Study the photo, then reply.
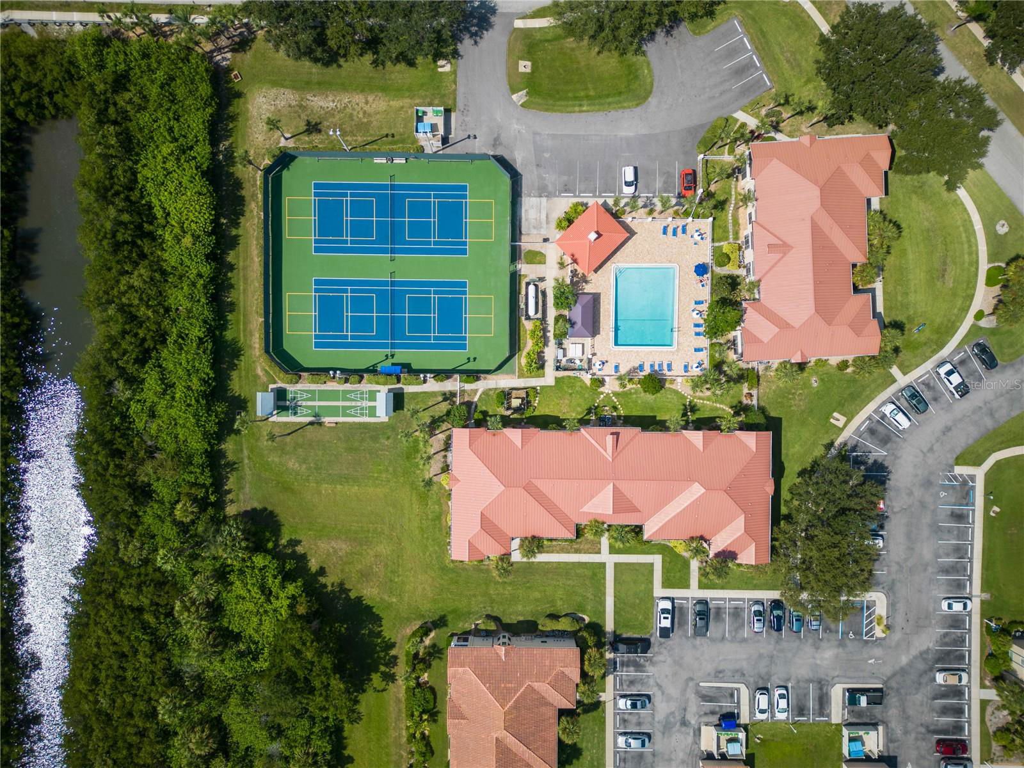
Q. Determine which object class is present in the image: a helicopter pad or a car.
car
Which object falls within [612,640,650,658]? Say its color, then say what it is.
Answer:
black vehicle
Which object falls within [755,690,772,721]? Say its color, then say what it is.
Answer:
white car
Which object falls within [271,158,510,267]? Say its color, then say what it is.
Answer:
green tennis court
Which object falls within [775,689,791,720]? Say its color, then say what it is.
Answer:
white car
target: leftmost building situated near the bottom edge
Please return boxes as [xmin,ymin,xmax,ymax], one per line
[447,635,580,768]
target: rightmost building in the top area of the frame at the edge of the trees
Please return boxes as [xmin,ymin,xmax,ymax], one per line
[733,133,893,363]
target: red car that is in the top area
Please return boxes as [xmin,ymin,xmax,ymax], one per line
[682,167,697,196]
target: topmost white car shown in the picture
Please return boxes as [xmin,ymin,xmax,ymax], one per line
[623,164,638,194]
